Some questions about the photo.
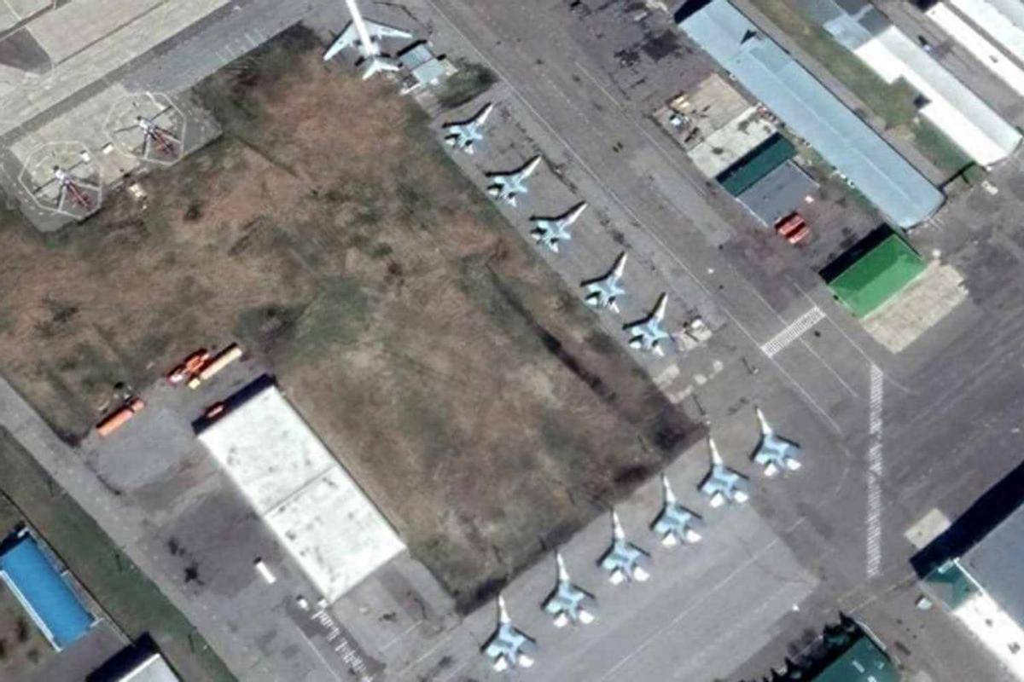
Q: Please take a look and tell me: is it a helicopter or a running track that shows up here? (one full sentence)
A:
Of the two, only a helicopter appears.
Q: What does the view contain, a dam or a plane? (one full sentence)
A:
Visible in the photo is a plane.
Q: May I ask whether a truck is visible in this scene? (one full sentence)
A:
Yes, there is a truck in the image.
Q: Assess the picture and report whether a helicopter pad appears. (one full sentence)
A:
Yes, there's a helicopter pad here.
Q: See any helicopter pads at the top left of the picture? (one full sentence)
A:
Yes, at the top left of the picture there is a helicopter pad.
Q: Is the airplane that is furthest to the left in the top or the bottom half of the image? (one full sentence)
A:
The top half of the photo is where the airplane that is furthest to the left is.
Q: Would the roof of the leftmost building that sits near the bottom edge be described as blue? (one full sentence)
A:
Yes, blue is the color of the roof of the leftmost building that sits near the bottom edge.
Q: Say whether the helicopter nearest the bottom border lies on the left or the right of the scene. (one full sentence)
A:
You can find the helicopter nearest the bottom border on the left side of the picture.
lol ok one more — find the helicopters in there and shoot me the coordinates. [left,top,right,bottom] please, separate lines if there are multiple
[122,102,179,159]
[37,153,94,211]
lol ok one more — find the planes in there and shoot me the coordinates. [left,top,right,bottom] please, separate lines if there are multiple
[587,252,625,313]
[602,509,649,584]
[325,0,414,79]
[545,554,595,628]
[755,405,800,476]
[447,105,491,156]
[630,294,669,356]
[701,434,748,507]
[535,205,585,254]
[653,472,701,546]
[492,158,538,208]
[484,592,536,671]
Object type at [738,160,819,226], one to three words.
shed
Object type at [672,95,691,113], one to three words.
vehicle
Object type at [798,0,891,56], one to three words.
building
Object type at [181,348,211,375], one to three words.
truck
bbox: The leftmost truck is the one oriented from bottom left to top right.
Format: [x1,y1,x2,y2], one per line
[97,400,146,435]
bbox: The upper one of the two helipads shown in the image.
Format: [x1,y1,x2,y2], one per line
[104,93,187,164]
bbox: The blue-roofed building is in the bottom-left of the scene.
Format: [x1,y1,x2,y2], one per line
[0,528,104,654]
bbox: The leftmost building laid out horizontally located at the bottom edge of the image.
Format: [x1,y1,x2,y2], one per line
[114,652,180,682]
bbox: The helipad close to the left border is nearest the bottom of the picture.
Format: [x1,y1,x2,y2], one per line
[19,140,102,218]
